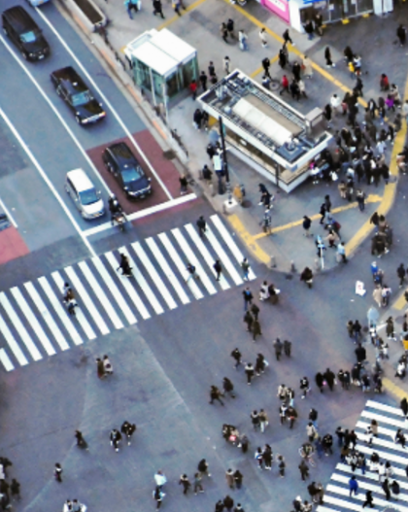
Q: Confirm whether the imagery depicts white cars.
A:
Yes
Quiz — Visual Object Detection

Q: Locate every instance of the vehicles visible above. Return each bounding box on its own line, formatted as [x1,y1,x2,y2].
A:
[0,0,52,61]
[111,207,124,228]
[98,132,154,198]
[60,158,106,216]
[49,60,106,124]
